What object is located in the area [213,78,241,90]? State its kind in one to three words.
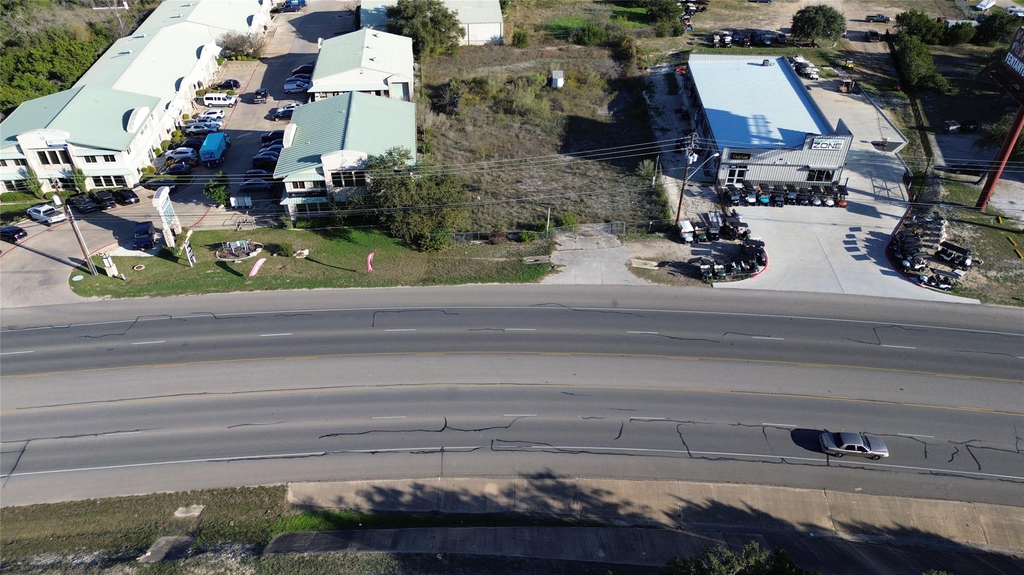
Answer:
vehicle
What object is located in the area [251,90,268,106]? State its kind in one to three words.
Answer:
vehicle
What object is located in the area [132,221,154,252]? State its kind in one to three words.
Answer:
truck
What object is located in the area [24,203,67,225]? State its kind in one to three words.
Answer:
truck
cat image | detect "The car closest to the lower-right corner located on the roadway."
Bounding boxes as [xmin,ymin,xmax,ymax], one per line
[822,433,896,462]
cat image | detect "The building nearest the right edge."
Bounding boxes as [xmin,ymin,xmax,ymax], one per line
[690,55,861,191]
